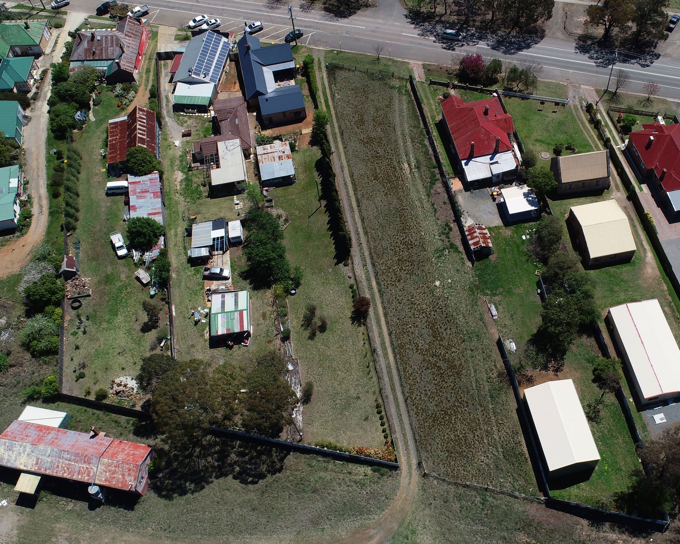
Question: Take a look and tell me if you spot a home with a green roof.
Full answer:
Yes, the frame does contain a home with a green roof.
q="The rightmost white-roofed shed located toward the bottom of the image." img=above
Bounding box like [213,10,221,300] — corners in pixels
[608,299,680,407]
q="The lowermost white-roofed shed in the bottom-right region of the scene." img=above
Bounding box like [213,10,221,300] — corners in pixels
[523,379,601,477]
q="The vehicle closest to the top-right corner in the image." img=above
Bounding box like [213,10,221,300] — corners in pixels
[666,12,680,31]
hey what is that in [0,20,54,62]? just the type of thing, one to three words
house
